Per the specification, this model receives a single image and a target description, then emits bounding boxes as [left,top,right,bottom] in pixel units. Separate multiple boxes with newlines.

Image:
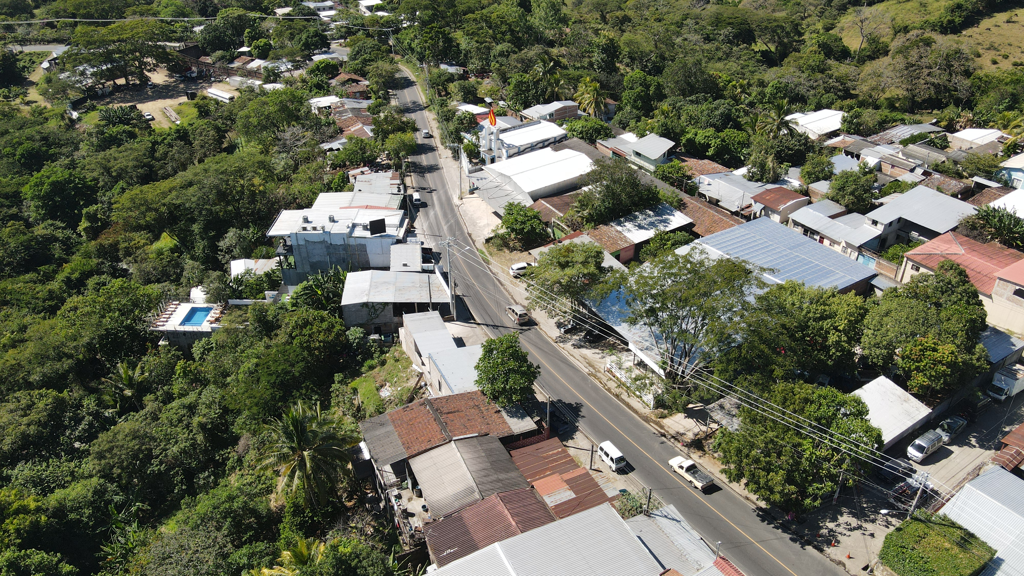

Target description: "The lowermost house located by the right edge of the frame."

[937,466,1024,576]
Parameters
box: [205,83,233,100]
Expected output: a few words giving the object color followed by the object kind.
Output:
white vehicle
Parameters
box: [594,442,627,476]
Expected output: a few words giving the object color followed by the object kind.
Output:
white vehicle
